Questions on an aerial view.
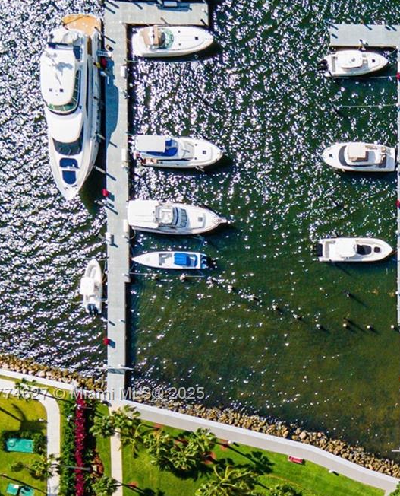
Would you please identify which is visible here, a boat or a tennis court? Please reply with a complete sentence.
The image shows a boat.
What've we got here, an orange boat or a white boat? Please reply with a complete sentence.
The one in the frame is a white boat.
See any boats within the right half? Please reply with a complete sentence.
Yes, I can see a boat within the right half.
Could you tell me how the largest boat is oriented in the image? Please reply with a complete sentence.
The largest boat runs from top to bottom in the image.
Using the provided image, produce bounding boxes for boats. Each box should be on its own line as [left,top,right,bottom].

[128,200,229,233]
[322,142,398,172]
[81,259,106,313]
[132,136,223,167]
[319,50,388,75]
[316,238,393,262]
[132,25,214,55]
[40,13,104,199]
[133,251,209,269]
